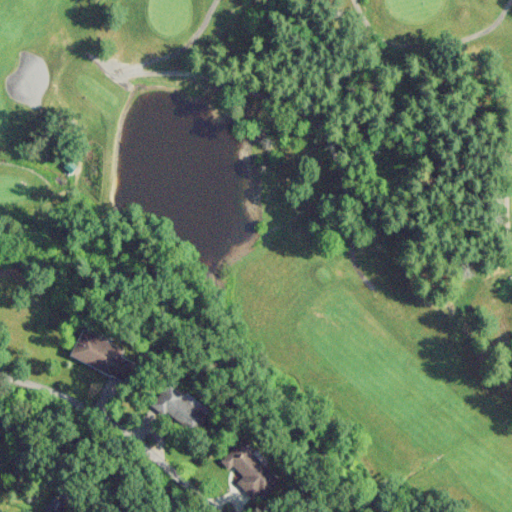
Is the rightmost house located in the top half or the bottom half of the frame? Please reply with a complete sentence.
The rightmost house is in the bottom half of the image.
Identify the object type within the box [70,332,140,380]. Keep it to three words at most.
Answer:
house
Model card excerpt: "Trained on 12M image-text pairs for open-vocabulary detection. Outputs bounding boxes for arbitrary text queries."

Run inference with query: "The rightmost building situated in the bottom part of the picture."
[220,450,273,496]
